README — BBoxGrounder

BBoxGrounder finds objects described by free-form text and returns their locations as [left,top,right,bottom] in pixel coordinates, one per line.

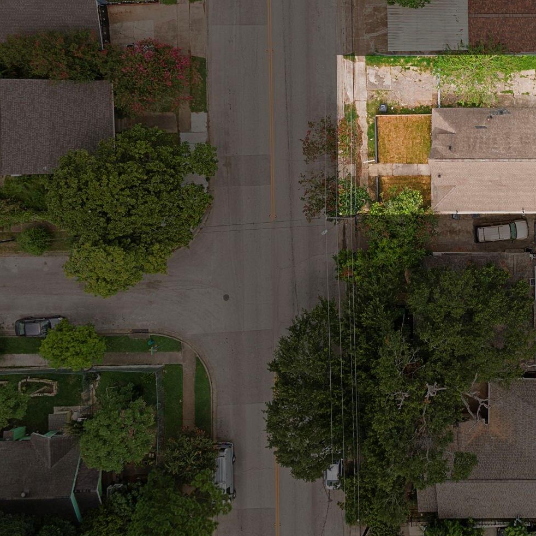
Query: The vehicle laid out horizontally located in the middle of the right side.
[473,217,529,245]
